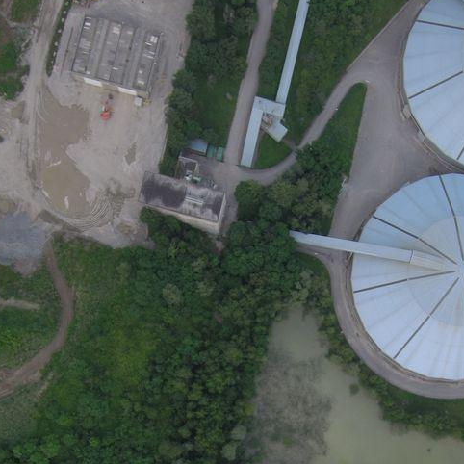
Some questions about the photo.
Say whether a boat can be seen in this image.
No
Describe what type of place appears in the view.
industrial area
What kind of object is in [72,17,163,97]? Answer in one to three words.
building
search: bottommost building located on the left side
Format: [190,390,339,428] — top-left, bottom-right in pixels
[138,172,225,228]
